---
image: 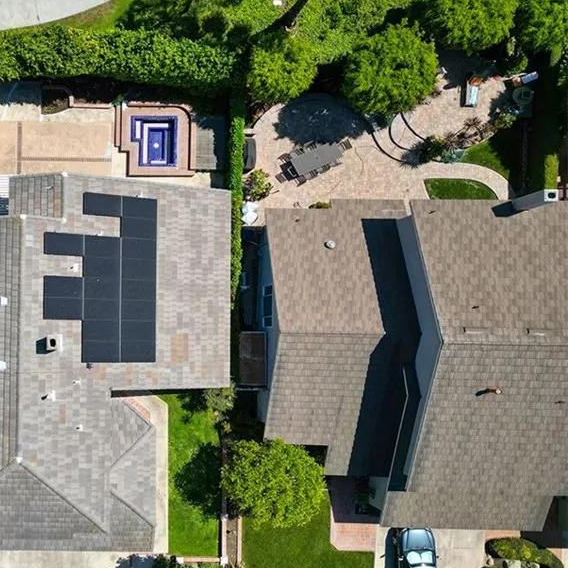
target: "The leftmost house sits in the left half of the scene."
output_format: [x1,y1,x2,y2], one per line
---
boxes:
[0,174,232,552]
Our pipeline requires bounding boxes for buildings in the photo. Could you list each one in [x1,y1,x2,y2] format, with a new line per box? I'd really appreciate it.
[256,187,568,528]
[0,174,232,552]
